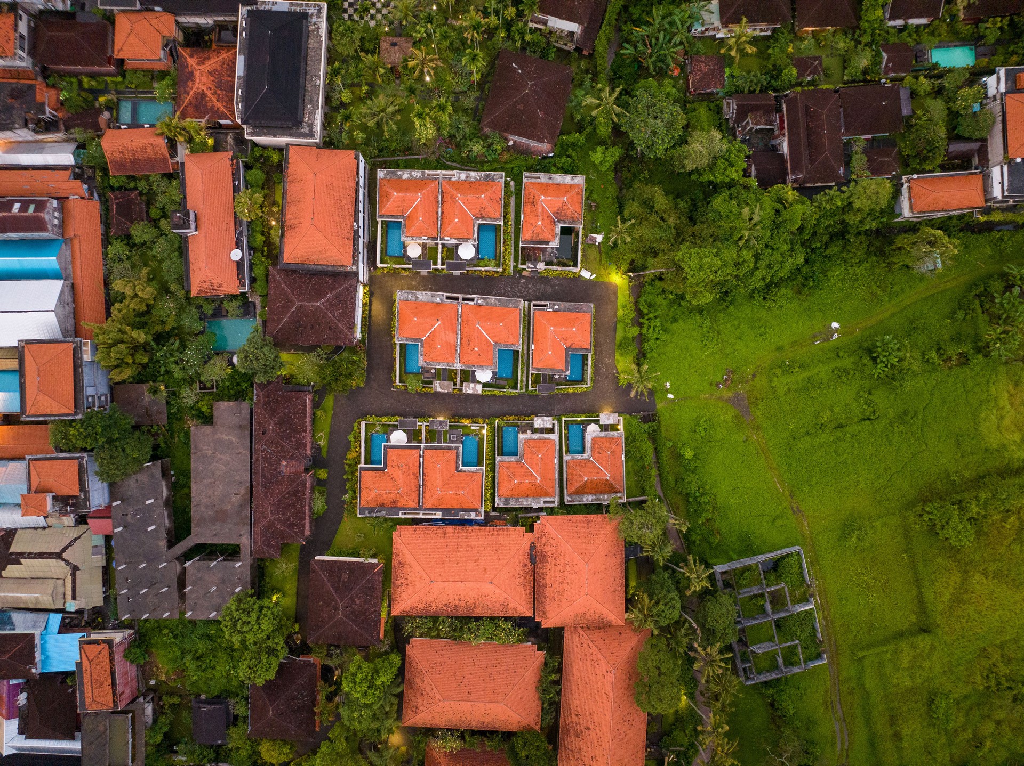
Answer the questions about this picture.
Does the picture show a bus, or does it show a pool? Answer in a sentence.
I can see a pool in this picture.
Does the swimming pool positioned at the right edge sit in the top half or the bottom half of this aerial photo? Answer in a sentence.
The top half of the photo is where the swimming pool positioned at the right edge is.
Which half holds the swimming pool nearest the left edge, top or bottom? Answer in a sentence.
It is in the top half that the swimming pool nearest the left edge appears.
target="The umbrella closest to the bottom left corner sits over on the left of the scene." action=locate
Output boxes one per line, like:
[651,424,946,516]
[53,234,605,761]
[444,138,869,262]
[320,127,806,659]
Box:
[390,428,407,443]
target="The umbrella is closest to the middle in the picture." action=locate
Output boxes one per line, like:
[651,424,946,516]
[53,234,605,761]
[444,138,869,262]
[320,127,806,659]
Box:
[475,370,492,384]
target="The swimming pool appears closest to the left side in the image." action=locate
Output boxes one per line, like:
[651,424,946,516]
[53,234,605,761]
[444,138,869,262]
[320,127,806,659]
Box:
[114,97,177,127]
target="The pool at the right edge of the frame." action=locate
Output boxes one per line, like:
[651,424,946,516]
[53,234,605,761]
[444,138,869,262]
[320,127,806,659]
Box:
[928,43,978,70]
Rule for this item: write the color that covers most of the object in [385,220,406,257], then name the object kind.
blue swimming pool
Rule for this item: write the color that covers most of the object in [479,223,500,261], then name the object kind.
blue swimming pool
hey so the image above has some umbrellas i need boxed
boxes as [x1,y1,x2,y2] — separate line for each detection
[390,428,407,443]
[458,243,475,260]
[587,422,600,433]
[475,370,492,384]
[407,244,421,258]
